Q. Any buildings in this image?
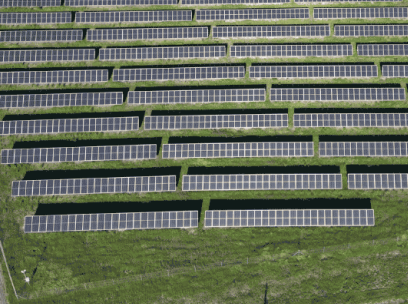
No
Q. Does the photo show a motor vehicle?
No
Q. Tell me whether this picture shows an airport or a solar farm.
solar farm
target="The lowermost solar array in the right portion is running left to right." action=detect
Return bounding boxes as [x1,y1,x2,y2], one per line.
[205,209,374,226]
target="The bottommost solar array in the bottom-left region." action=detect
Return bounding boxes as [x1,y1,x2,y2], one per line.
[25,211,198,232]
